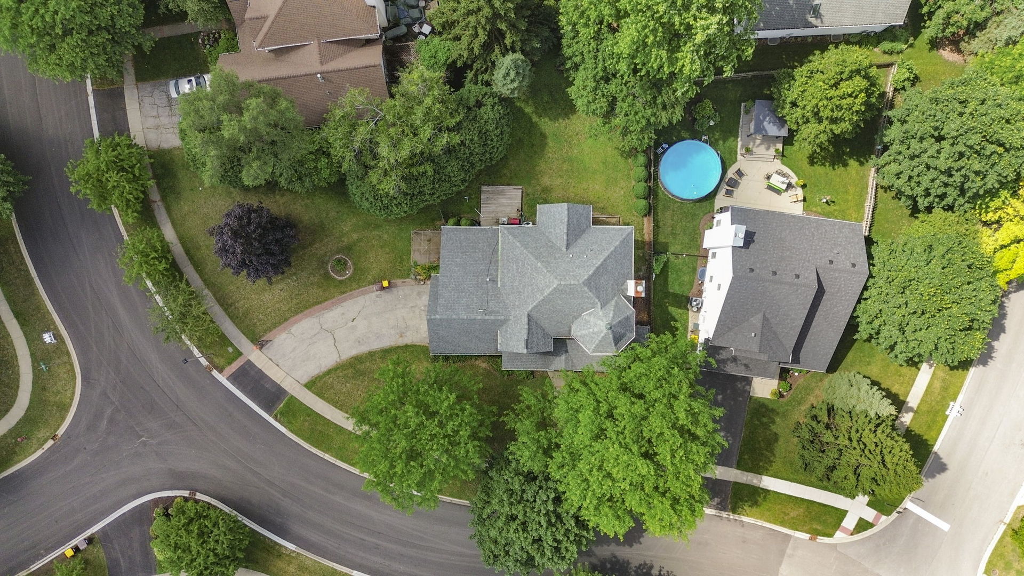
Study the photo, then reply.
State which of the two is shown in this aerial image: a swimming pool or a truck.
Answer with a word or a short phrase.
swimming pool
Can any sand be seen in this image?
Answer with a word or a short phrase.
No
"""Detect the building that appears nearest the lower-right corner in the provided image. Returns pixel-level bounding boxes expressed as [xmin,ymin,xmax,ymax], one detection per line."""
[699,204,870,381]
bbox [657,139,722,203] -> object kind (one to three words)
swimming pool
